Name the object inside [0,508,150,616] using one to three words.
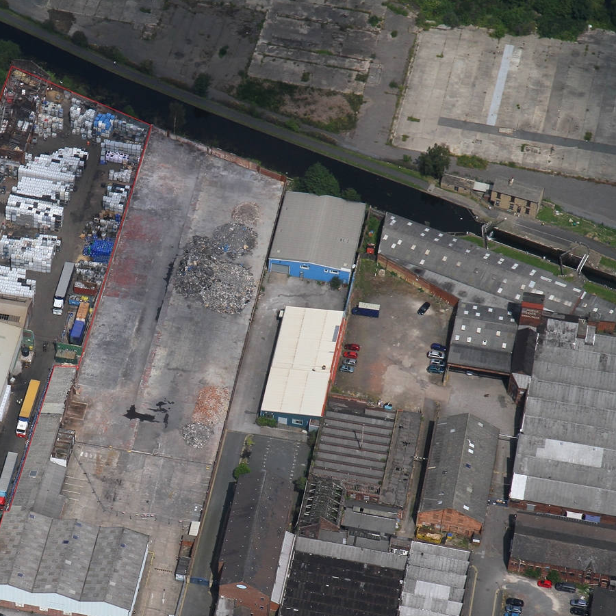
building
